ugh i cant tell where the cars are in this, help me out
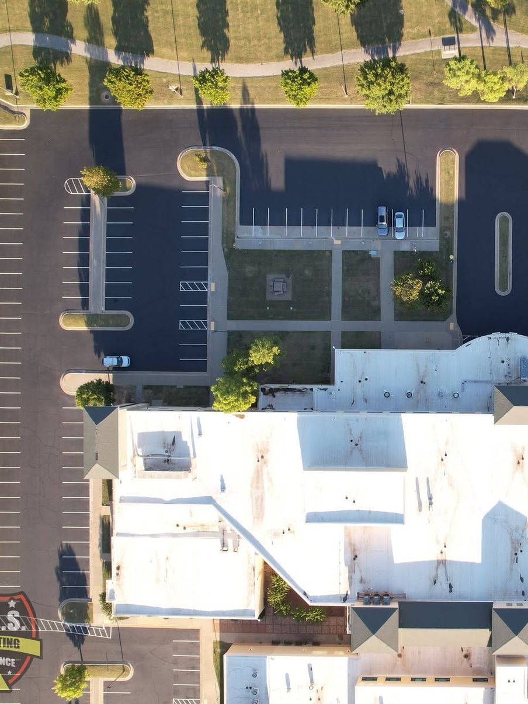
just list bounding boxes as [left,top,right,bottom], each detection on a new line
[102,355,131,368]
[377,208,388,235]
[394,211,406,239]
